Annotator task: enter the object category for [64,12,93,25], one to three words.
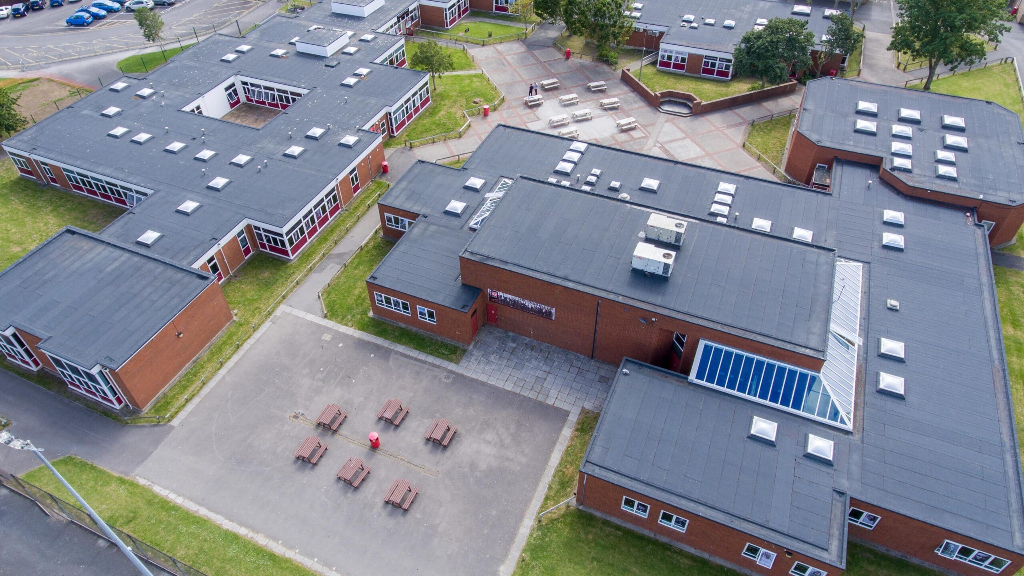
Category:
vehicle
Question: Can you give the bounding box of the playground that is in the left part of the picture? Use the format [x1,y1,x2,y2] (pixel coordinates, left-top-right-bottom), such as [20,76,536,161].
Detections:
[132,312,570,576]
